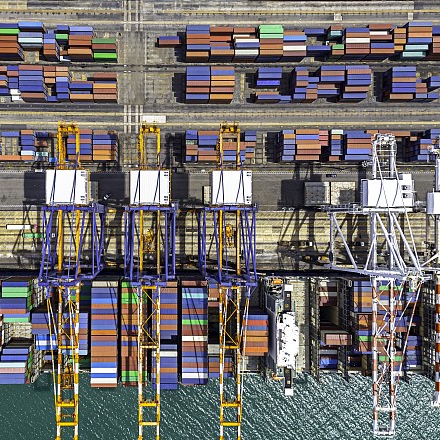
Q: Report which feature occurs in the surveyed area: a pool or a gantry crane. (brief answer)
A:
gantry crane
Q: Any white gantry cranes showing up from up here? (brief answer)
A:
Yes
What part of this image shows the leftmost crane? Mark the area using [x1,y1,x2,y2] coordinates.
[34,121,111,440]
